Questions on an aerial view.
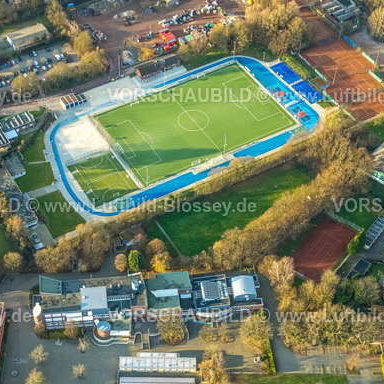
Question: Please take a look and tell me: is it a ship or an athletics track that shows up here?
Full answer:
Visible in the photo is an athletics track.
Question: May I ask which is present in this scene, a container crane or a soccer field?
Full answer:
It is a soccer field that can be seen here.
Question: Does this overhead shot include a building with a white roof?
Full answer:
Yes, I can see a building with a white roof in this picture.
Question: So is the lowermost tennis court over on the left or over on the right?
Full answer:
It is on the right.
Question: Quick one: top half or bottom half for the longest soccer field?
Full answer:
The longest soccer field is in the top half of the image.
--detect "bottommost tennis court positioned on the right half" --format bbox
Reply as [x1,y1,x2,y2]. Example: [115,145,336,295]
[293,213,359,282]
